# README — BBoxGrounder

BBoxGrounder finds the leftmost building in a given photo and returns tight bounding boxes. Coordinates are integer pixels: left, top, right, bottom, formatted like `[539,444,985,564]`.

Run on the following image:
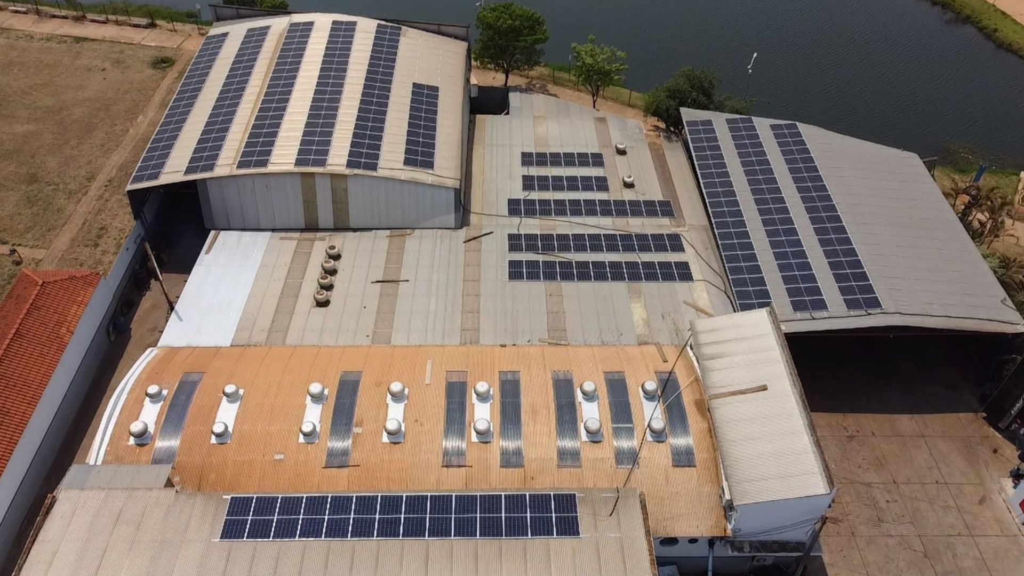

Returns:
[0,268,103,470]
